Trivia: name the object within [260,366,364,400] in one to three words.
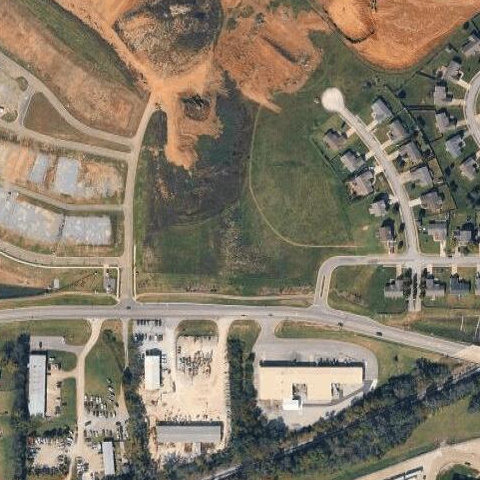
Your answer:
building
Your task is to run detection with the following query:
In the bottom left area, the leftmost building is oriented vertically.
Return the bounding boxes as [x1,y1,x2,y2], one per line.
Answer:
[29,352,46,416]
